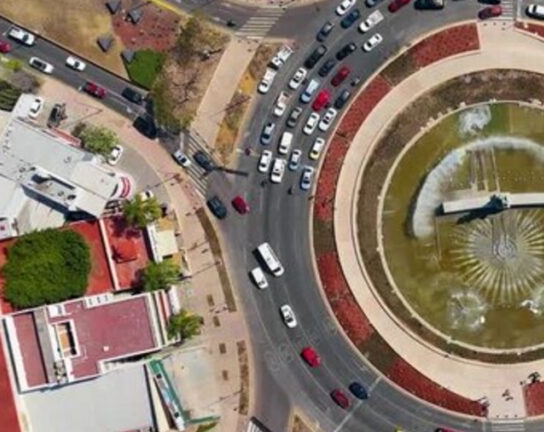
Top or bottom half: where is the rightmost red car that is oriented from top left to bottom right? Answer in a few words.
bottom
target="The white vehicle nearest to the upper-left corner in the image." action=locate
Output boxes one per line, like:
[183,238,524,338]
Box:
[7,27,35,45]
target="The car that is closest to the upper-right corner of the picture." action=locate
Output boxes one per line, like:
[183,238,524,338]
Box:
[527,4,544,17]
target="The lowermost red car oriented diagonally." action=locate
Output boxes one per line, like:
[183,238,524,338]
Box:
[330,387,350,408]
